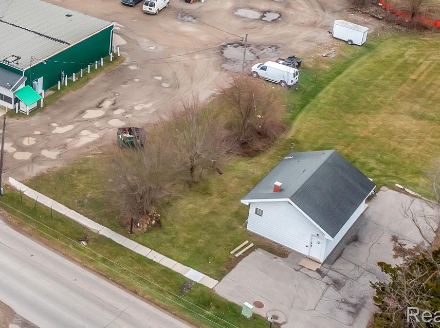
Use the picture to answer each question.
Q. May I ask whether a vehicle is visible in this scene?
Yes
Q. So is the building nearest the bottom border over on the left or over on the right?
right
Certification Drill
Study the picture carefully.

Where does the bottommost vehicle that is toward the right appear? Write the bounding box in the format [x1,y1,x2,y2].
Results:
[252,62,300,86]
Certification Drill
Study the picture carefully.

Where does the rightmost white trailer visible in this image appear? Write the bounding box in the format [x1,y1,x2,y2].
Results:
[328,16,372,40]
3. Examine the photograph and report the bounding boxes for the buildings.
[239,143,378,266]
[0,0,117,110]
